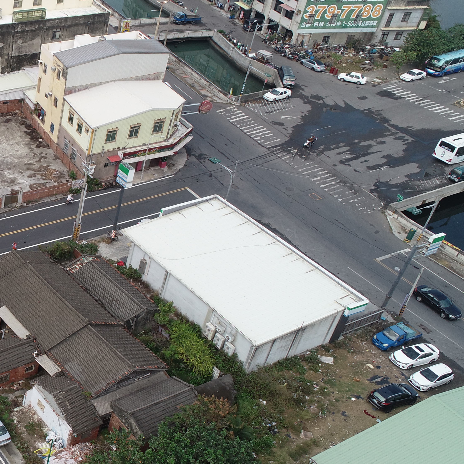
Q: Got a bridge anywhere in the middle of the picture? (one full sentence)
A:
No, no bridge appears in the middle of the picture.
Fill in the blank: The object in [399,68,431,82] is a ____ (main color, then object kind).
white car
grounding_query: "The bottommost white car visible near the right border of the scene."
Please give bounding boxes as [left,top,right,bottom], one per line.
[407,363,460,392]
